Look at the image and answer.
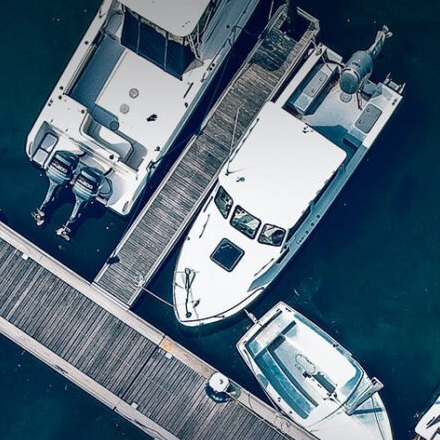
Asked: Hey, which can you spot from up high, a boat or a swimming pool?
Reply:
boat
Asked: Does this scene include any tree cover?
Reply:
No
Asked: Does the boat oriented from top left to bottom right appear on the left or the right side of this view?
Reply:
right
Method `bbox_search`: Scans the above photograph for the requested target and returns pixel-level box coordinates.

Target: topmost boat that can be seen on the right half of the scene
[172,21,404,327]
